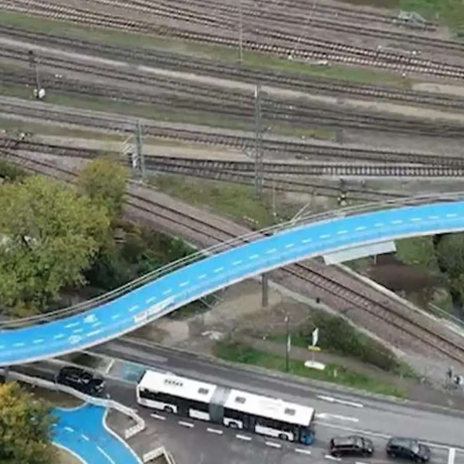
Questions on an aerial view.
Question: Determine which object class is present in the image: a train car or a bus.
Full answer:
There is a bus in the scene.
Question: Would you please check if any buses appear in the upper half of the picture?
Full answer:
No, looking in the upper half of the picture, there is no bus.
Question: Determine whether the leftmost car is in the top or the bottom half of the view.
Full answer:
The leftmost car is in the bottom half of the image.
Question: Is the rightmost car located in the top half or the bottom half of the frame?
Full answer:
The bottom half of the photo is where the rightmost car is.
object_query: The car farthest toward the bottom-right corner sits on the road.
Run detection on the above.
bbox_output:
[385,433,434,463]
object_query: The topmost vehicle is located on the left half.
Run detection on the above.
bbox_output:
[56,361,104,391]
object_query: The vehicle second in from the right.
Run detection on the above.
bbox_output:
[329,433,376,458]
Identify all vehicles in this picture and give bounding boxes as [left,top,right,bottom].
[329,433,376,458]
[385,433,434,463]
[56,361,104,391]
[138,372,323,446]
